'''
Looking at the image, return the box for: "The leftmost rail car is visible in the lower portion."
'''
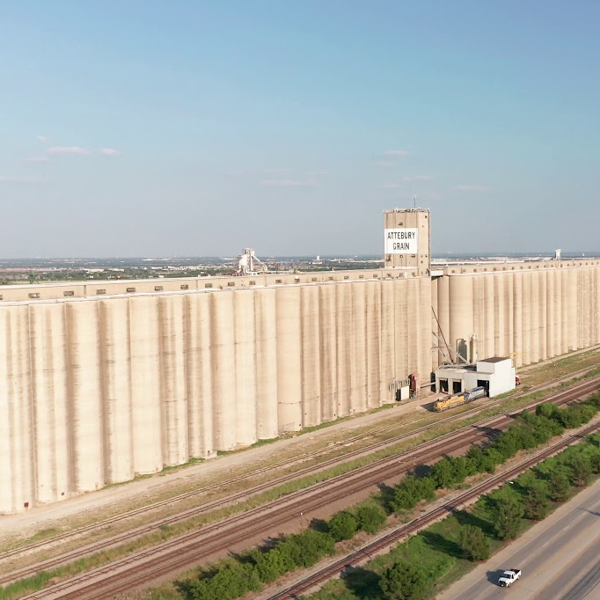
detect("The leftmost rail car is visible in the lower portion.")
[434,391,467,410]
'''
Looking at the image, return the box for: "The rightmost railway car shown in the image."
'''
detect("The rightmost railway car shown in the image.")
[464,385,488,401]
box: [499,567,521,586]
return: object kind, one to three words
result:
vehicle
